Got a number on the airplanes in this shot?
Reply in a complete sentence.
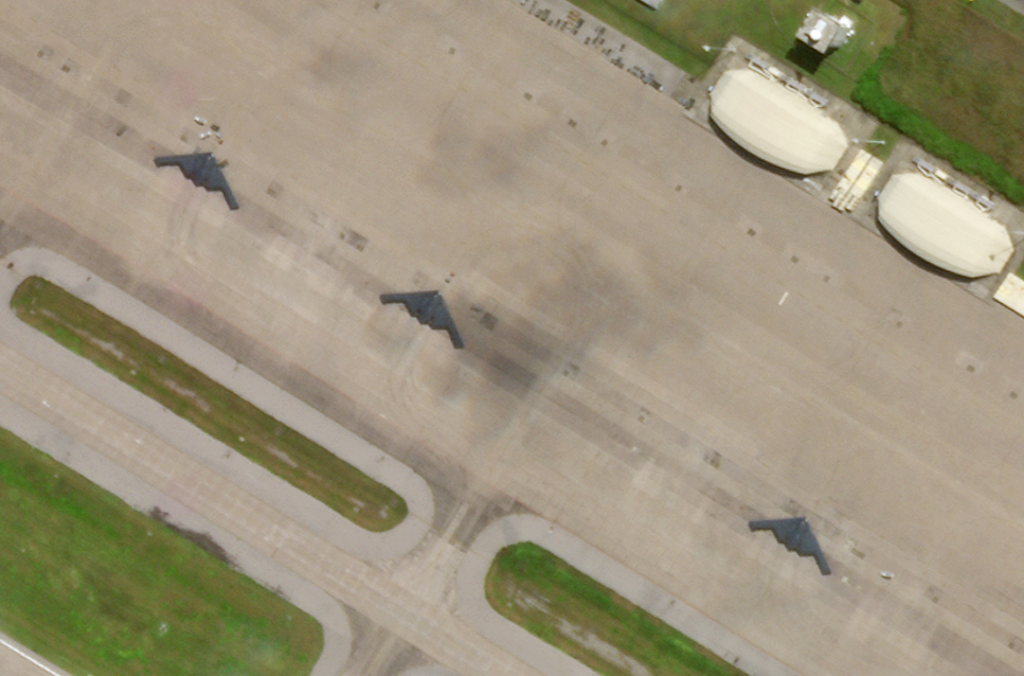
The count of airplanes comes to 3.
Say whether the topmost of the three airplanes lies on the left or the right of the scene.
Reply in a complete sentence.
The topmost of the three airplanes is on the left side of the image.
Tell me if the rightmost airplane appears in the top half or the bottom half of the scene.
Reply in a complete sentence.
You can find the rightmost airplane in the bottom half.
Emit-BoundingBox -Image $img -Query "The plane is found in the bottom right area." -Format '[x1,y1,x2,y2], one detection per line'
[747,517,831,574]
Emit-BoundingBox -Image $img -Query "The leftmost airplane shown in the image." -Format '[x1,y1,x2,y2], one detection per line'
[154,153,239,209]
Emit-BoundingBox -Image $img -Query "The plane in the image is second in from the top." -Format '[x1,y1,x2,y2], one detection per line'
[380,291,464,347]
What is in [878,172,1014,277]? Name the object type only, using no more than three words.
hangar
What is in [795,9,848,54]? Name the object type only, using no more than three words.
building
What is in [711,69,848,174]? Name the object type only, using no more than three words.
hangar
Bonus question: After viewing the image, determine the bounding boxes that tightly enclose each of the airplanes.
[380,291,464,347]
[154,153,239,209]
[747,517,831,574]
